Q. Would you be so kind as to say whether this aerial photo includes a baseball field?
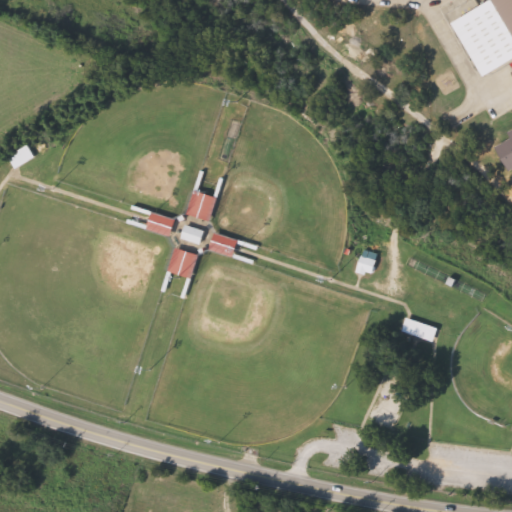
Yes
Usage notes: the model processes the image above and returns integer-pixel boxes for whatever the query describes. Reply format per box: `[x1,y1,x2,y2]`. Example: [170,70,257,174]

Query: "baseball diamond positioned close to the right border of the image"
[452,310,512,426]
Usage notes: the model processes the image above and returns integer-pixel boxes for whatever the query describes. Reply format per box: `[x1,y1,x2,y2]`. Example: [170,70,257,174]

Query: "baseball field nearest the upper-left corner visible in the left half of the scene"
[58,84,226,214]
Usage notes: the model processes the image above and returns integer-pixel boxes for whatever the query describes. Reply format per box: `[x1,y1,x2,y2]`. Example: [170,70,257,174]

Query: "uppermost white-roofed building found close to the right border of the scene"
[451,0,512,76]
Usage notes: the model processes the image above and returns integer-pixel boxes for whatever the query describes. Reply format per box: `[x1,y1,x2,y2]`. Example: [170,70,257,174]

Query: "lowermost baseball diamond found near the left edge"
[0,184,168,413]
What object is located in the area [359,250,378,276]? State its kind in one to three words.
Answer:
building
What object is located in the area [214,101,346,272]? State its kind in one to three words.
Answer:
baseball field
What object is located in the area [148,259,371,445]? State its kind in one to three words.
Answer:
baseball field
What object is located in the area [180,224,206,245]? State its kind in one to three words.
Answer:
building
